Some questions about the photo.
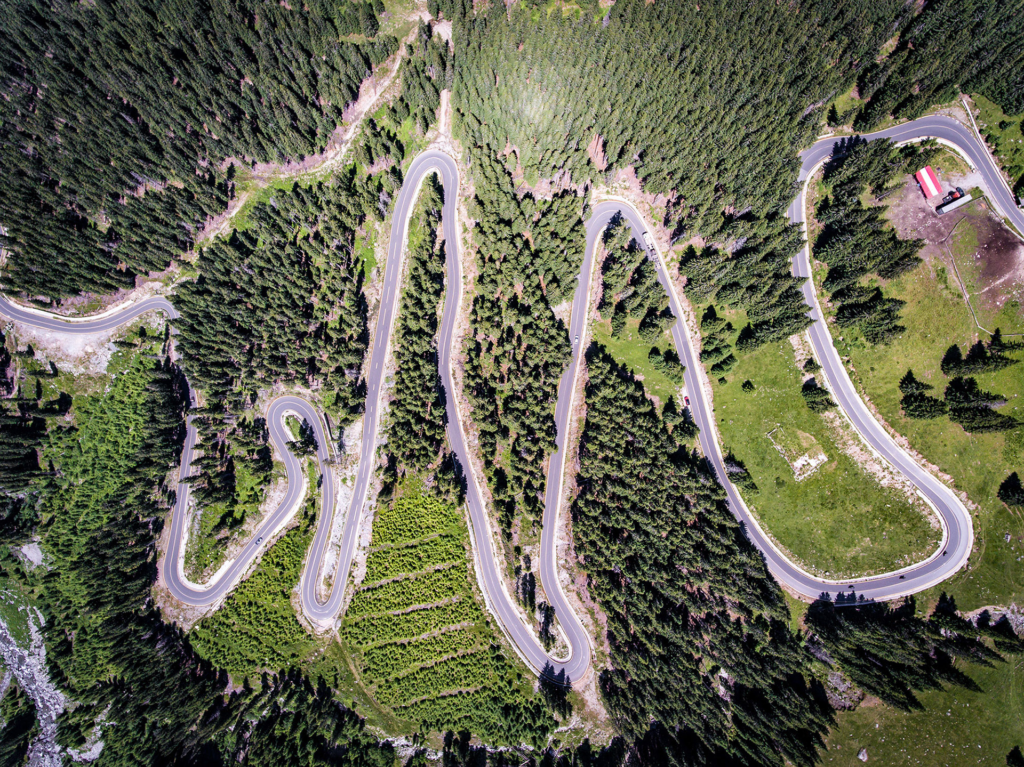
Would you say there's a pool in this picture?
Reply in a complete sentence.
No, the frame has no pool in it.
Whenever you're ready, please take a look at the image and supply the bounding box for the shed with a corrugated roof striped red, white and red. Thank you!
[911,166,942,199]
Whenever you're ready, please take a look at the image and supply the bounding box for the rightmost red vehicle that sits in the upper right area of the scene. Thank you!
[940,191,960,205]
